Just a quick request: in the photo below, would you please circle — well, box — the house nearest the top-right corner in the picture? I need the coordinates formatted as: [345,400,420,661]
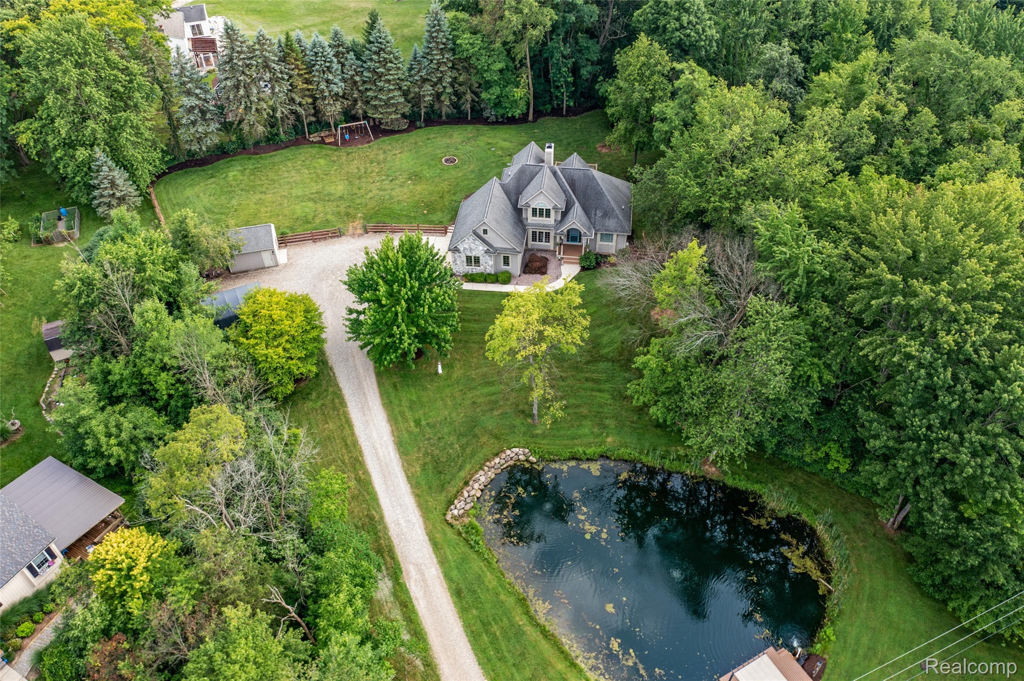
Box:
[447,139,633,275]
